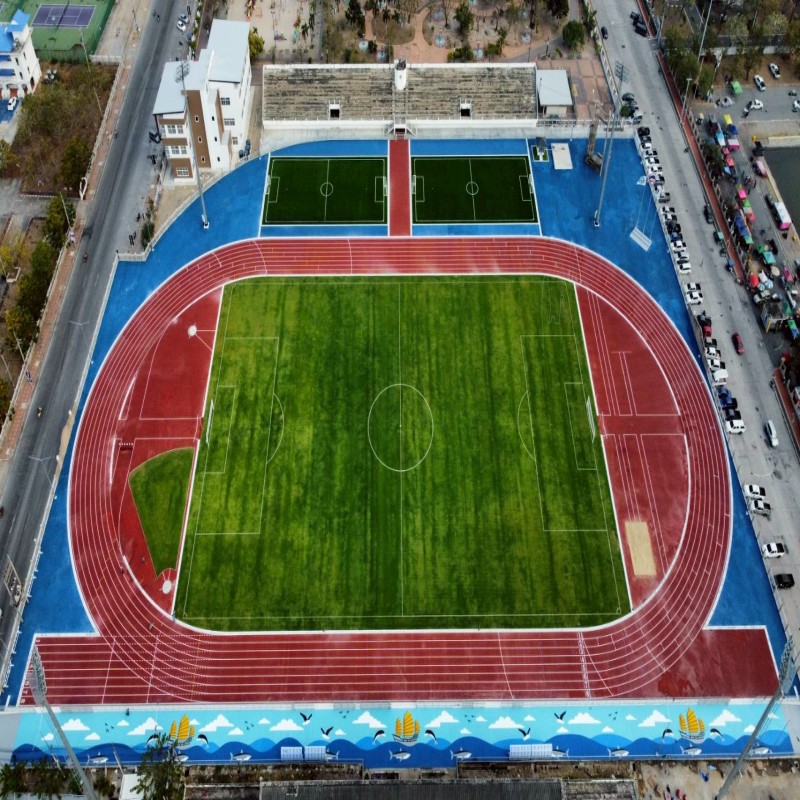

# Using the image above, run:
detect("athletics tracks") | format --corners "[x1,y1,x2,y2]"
[20,238,784,703]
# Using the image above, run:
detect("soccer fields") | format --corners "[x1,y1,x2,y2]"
[256,143,389,237]
[172,275,634,629]
[409,138,541,236]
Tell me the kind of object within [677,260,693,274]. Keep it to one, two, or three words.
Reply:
car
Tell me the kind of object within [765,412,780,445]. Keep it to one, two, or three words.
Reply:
vehicle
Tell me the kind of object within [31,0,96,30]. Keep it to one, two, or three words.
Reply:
tennis court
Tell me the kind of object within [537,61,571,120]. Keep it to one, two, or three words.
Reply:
building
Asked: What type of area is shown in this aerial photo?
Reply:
sports ground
